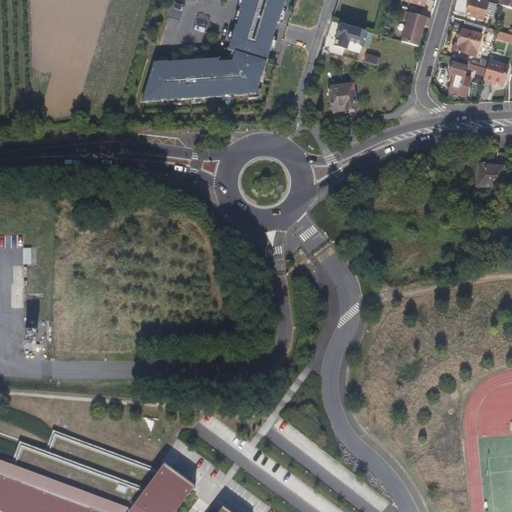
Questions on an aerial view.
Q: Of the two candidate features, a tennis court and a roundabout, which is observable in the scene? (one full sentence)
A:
There is a roundabout in the scene.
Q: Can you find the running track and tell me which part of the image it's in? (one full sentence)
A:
The running track is in the bottom right part of the image.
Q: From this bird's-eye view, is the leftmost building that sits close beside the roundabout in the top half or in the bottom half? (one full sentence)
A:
It is in the top half that the leftmost building that sits close beside the roundabout appears.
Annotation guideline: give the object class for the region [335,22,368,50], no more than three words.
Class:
house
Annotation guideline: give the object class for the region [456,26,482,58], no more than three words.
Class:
house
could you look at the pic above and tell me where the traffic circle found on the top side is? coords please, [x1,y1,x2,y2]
[215,132,315,232]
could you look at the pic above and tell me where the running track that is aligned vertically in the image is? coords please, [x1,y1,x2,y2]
[462,370,512,512]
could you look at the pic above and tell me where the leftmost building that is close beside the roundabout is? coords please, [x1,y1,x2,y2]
[142,0,284,104]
